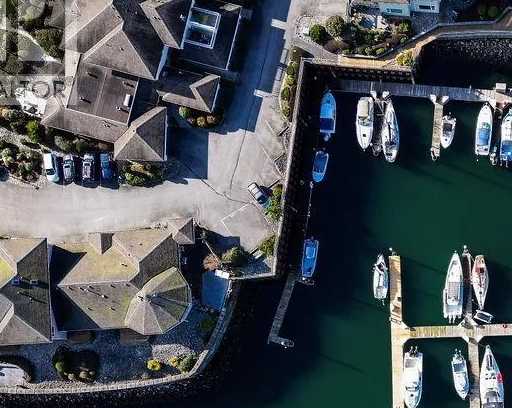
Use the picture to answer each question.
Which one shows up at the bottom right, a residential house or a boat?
boat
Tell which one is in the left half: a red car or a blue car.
blue car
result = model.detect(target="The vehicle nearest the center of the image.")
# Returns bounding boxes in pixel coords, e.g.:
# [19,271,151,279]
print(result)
[247,183,272,210]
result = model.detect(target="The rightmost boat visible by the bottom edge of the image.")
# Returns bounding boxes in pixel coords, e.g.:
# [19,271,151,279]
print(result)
[478,346,504,408]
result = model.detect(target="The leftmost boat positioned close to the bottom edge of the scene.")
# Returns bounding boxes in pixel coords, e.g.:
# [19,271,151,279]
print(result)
[402,349,422,408]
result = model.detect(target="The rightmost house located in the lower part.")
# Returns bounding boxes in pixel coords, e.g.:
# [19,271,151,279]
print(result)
[51,218,203,344]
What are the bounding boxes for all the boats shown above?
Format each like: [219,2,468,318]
[498,106,512,164]
[478,346,504,408]
[372,252,390,302]
[318,90,338,138]
[469,255,488,310]
[402,349,422,408]
[443,251,466,324]
[356,94,376,152]
[301,235,319,277]
[438,113,455,150]
[380,98,399,164]
[451,351,471,402]
[303,277,315,285]
[312,147,330,181]
[474,101,494,156]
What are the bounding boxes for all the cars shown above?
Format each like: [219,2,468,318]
[247,183,272,210]
[63,154,80,183]
[100,154,118,182]
[82,153,100,183]
[44,153,64,183]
